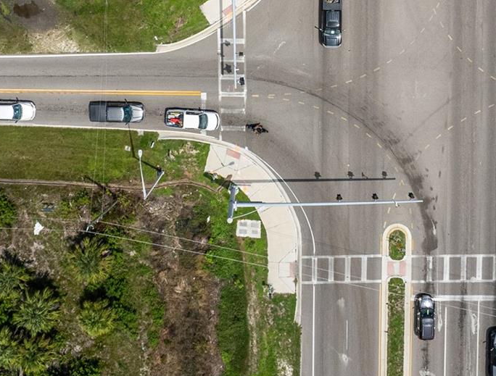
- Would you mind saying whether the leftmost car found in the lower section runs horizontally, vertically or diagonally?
vertically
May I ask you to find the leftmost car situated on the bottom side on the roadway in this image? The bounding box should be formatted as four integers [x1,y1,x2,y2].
[413,291,438,341]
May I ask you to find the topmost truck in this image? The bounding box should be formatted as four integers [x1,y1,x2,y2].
[318,0,344,48]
